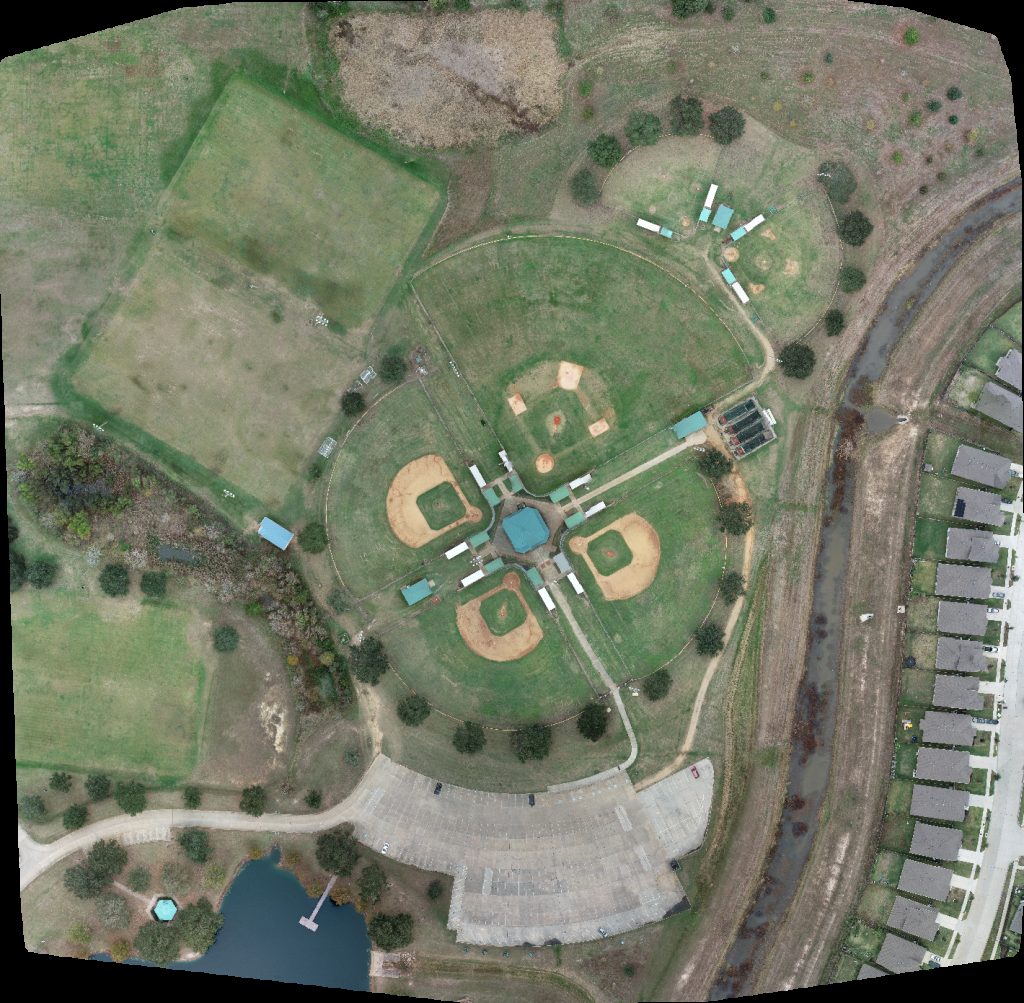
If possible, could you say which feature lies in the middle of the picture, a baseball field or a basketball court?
baseball field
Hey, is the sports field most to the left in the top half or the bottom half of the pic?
bottom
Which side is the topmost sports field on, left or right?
left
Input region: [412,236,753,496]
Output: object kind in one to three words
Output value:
baseball field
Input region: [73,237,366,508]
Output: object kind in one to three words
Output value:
sports field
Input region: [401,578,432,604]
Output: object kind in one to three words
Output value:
building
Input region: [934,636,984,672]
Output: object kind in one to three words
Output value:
house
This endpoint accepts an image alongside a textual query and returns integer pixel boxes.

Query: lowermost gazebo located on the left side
[151,896,180,921]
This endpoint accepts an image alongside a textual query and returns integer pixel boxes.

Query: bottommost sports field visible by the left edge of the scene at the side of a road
[0,594,206,778]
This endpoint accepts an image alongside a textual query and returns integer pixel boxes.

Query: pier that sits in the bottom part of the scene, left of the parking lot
[301,876,335,933]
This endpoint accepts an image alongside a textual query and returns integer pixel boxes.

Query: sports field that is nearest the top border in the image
[158,79,442,335]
